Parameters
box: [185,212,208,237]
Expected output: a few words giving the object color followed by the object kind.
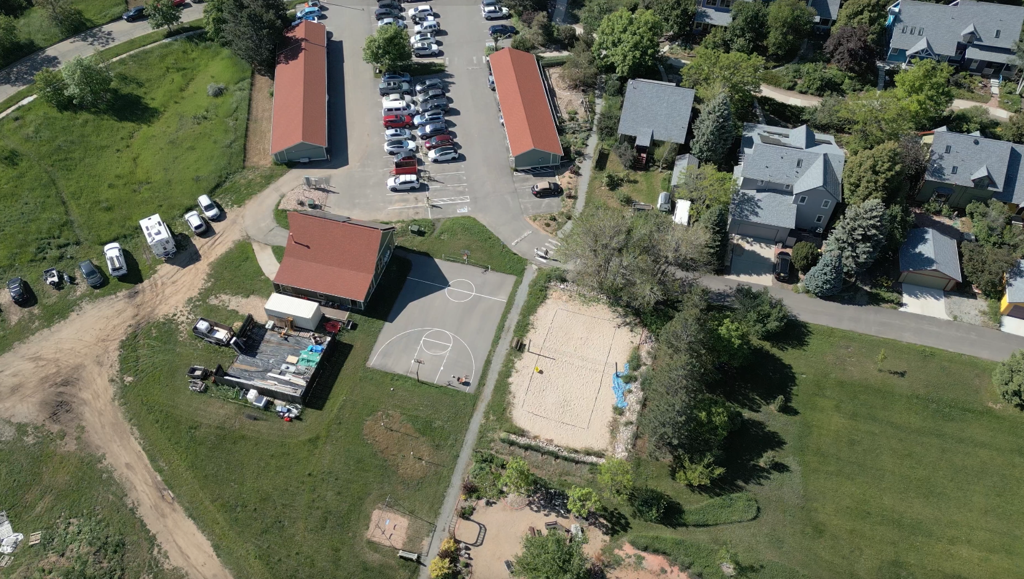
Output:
white car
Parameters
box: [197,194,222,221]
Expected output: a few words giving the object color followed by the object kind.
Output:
white car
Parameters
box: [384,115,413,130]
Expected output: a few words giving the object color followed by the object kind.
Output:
red car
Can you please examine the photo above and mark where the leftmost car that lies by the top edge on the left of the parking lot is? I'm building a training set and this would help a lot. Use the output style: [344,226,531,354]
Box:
[121,7,147,24]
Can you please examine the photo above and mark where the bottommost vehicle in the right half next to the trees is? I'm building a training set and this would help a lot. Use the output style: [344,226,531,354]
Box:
[772,252,793,284]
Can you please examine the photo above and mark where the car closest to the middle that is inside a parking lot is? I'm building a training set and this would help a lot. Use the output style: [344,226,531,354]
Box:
[531,183,562,200]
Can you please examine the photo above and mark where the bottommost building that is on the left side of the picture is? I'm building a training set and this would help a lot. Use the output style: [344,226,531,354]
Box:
[271,209,398,324]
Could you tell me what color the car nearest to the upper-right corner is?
black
